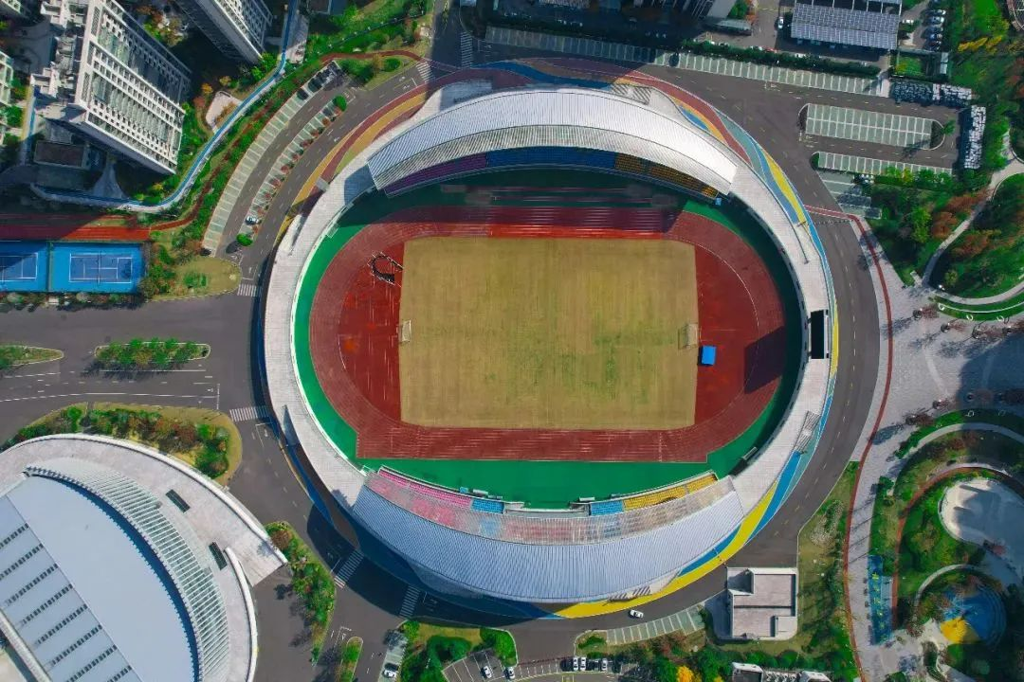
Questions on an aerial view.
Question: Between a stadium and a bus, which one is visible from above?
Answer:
stadium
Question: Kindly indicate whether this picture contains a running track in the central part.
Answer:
Yes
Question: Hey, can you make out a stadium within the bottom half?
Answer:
Yes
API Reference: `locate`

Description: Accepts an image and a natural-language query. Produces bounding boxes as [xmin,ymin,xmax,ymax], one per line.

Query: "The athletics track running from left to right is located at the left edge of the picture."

[0,214,150,239]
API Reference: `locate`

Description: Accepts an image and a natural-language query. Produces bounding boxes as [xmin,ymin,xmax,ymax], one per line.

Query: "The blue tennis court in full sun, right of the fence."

[46,241,143,292]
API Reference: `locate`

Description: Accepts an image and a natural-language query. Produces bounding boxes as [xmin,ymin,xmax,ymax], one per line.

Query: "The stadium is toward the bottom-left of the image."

[0,430,291,682]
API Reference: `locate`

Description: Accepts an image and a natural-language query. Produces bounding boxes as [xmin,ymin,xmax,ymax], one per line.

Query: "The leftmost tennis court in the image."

[0,239,47,292]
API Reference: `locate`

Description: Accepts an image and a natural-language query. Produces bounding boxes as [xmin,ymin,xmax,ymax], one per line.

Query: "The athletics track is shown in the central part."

[310,185,785,461]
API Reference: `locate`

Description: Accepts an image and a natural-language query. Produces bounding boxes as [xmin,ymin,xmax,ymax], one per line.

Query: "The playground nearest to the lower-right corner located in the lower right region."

[940,584,1011,650]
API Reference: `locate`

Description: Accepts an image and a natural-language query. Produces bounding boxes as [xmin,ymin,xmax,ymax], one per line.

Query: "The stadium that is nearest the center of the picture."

[264,79,831,605]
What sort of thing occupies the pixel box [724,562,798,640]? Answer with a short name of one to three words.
building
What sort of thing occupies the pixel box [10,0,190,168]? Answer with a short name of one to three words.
building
